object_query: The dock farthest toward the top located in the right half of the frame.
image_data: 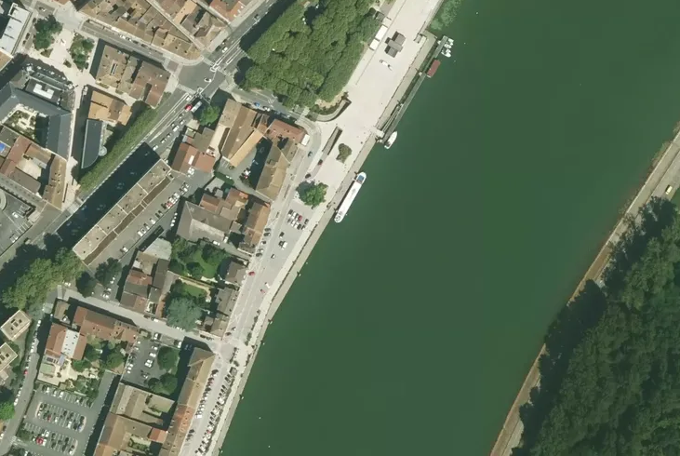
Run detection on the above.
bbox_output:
[381,36,448,137]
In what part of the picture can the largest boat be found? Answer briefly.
center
